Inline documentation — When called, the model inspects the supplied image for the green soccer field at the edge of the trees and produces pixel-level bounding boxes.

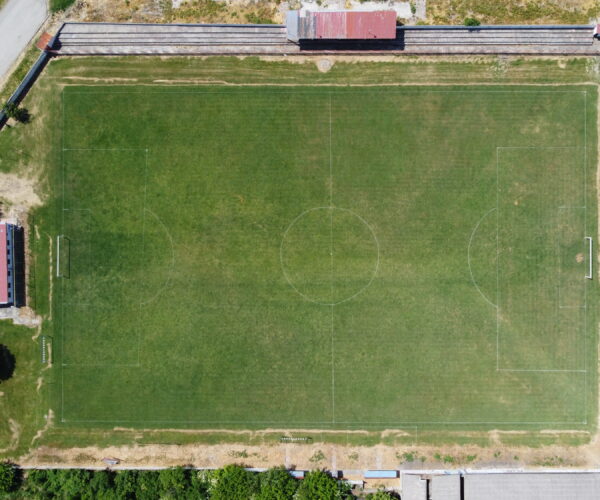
[53,87,595,446]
